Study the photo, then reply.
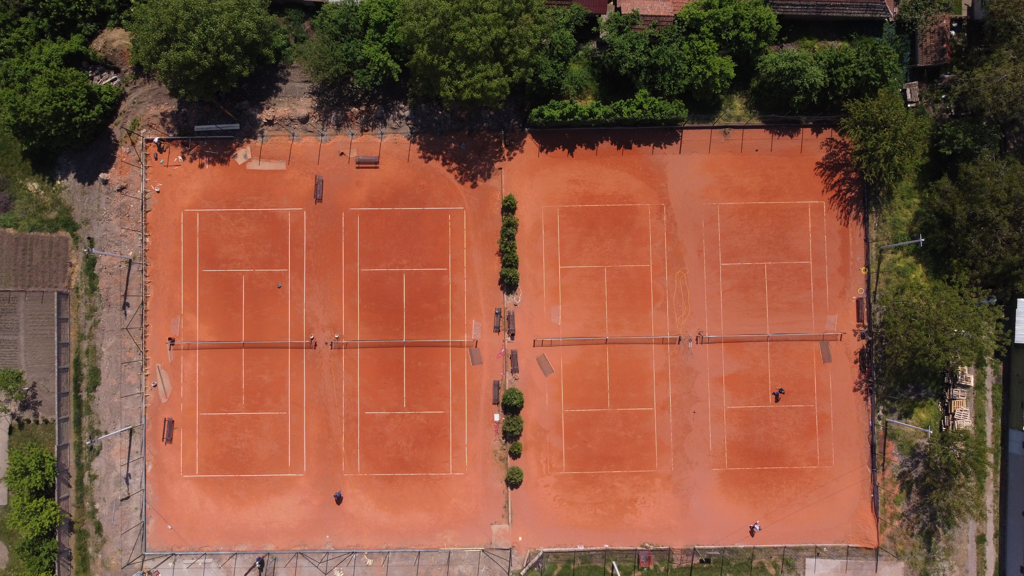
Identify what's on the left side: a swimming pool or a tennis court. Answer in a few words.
tennis court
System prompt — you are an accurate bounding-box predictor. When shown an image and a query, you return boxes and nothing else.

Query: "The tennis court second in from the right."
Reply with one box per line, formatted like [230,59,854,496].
[539,202,676,477]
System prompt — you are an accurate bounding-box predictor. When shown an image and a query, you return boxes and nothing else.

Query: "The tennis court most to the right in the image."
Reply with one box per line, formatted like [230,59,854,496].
[699,198,837,470]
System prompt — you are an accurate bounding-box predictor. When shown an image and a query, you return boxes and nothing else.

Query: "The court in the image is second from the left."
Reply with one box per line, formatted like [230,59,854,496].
[340,206,470,475]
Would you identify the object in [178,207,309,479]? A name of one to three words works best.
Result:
tennis court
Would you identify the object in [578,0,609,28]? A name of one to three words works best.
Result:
house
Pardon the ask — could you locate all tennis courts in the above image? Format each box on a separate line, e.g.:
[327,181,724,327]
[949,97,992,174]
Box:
[699,198,837,470]
[539,202,676,477]
[340,206,470,475]
[178,207,309,479]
